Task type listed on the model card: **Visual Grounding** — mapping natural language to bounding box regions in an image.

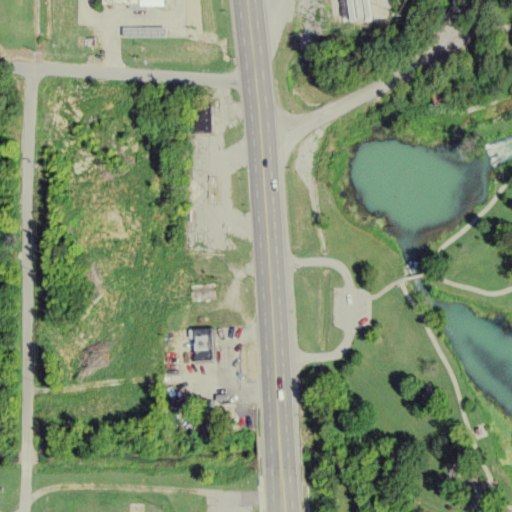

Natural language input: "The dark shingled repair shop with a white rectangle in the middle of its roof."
[189,328,212,362]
